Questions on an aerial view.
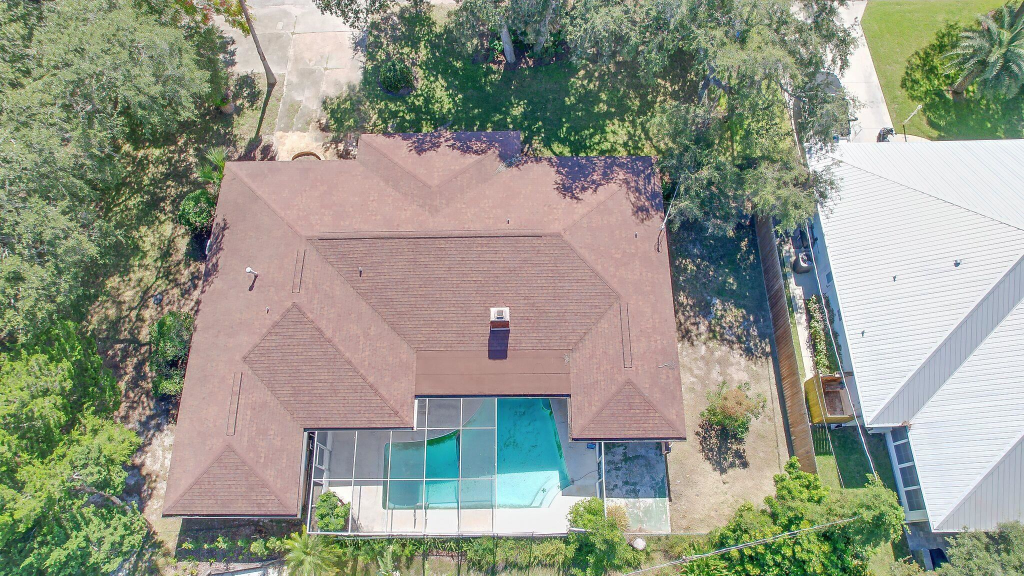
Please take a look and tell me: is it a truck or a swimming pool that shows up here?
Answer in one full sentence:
Of the two, only a swimming pool appears.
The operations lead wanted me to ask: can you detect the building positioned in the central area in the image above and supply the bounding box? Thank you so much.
[162,132,685,522]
